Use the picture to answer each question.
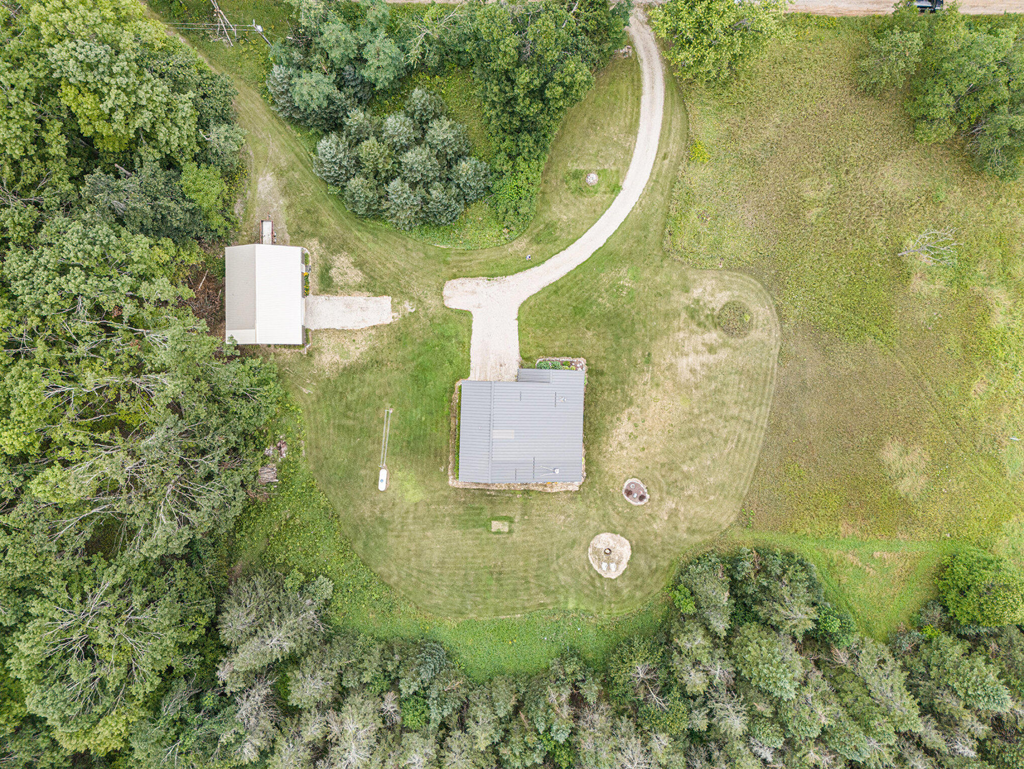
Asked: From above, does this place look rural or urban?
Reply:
rural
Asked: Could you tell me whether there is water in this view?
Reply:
No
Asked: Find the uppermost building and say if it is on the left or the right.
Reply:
left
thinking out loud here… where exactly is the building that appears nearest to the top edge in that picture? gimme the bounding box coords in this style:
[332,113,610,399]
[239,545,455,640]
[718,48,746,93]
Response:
[225,243,310,345]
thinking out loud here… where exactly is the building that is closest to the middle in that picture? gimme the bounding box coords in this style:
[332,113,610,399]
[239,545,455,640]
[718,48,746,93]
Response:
[458,369,586,484]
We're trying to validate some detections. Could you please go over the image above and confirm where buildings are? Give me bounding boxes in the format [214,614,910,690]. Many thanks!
[458,369,586,484]
[225,243,310,345]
